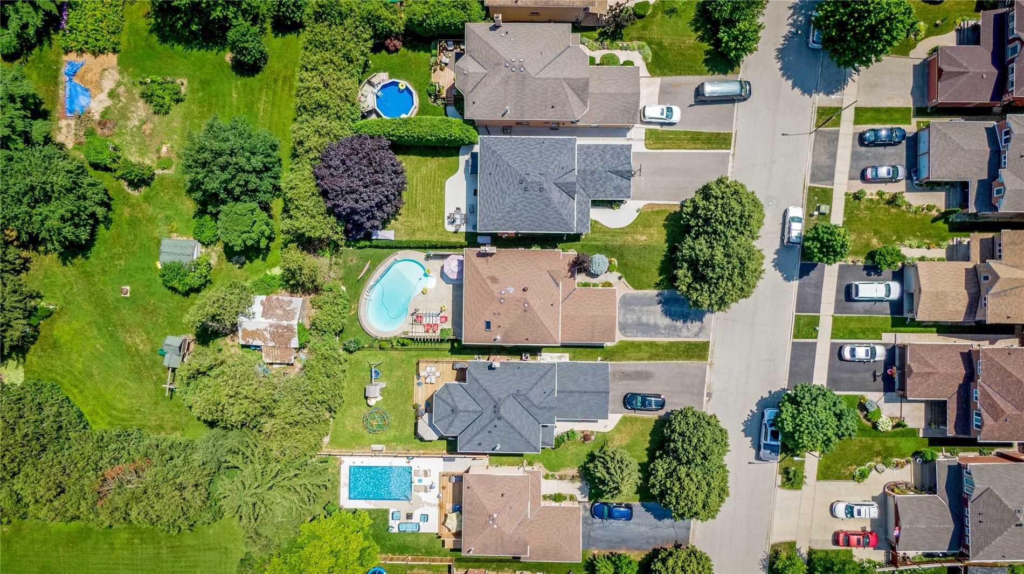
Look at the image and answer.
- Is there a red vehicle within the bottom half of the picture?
Yes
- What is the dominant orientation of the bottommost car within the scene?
from left to right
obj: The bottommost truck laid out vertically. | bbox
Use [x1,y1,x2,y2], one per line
[758,406,783,461]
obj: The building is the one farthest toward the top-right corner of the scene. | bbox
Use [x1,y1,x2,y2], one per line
[927,0,1024,105]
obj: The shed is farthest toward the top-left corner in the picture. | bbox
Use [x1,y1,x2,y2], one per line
[157,239,204,263]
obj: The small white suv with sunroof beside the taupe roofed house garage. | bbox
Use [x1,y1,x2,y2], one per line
[641,103,680,124]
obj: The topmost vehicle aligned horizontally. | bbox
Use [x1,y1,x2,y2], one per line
[694,78,749,102]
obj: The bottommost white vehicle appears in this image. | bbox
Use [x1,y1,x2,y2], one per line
[831,499,879,521]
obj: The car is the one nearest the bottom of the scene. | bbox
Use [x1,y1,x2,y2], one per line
[834,528,877,550]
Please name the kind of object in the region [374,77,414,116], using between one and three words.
swimming pool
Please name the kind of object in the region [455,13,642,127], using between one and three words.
house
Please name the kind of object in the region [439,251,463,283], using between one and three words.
umbrella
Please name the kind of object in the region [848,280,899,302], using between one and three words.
car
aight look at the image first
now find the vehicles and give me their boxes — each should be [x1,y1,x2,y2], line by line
[848,280,899,302]
[622,392,665,413]
[834,528,877,550]
[831,499,879,521]
[641,103,680,124]
[839,343,884,364]
[858,126,904,146]
[861,163,904,183]
[781,206,805,248]
[694,78,749,102]
[758,406,783,461]
[589,501,632,523]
